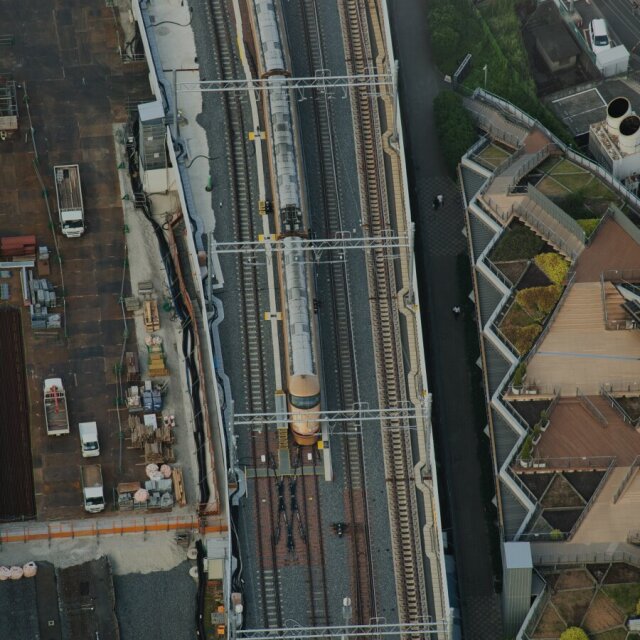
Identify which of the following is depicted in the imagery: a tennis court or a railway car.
railway car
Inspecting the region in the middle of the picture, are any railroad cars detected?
Yes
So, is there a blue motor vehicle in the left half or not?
No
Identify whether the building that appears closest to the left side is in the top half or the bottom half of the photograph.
top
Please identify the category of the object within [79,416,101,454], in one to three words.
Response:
truck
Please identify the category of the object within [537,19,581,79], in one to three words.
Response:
shed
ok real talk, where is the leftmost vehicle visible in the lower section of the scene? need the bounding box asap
[42,374,68,431]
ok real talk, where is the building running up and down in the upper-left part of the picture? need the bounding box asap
[138,91,169,161]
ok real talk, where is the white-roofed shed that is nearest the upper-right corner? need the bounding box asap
[596,45,629,82]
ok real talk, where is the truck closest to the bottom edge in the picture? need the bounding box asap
[81,462,106,510]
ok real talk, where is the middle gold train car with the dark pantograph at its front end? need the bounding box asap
[257,69,308,259]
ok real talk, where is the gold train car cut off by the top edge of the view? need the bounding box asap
[245,0,286,96]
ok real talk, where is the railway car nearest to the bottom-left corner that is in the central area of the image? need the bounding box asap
[277,232,319,445]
